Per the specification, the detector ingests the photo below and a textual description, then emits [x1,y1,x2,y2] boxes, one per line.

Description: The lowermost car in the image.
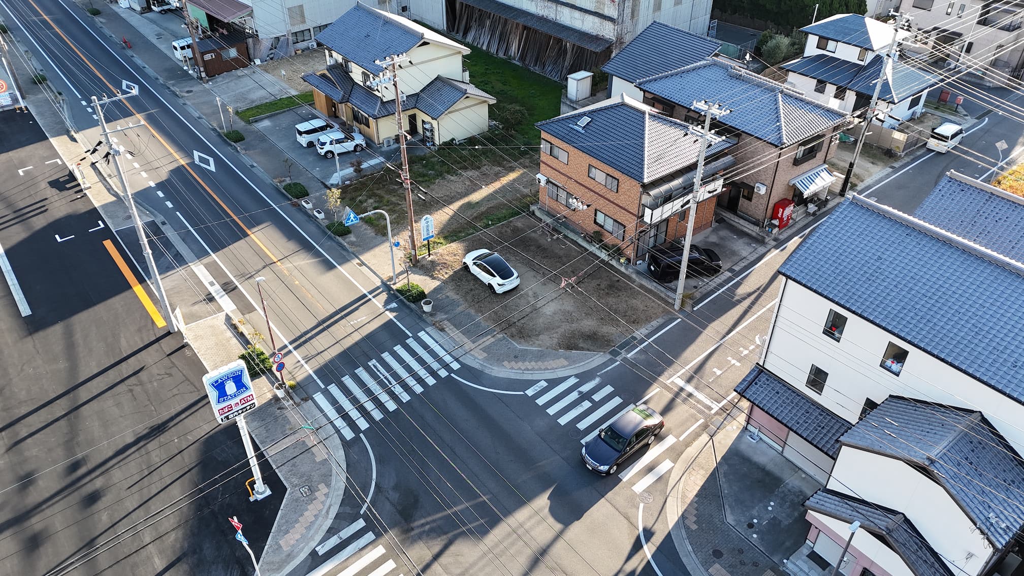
[586,402,669,470]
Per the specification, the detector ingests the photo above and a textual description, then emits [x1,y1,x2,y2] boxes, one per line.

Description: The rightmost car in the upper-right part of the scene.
[933,123,970,150]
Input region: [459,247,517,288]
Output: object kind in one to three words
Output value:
car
